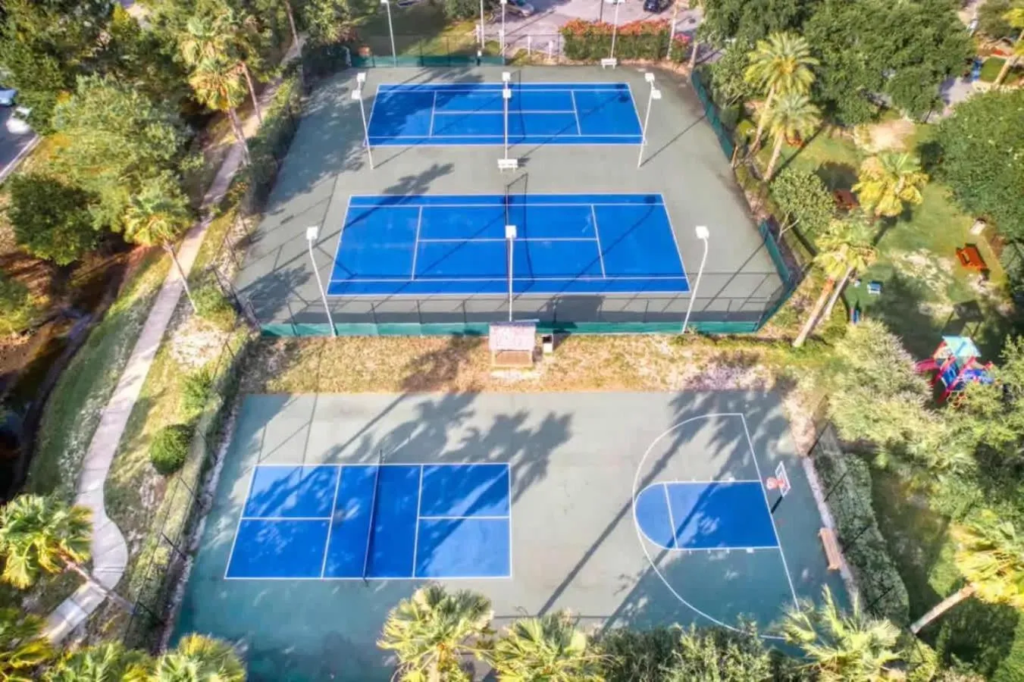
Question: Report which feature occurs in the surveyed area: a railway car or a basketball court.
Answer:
basketball court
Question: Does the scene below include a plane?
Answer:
No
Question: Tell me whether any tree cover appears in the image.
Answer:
Yes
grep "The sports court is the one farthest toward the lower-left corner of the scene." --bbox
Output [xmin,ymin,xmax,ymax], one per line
[222,448,512,586]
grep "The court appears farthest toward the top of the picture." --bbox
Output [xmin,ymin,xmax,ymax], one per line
[363,67,646,146]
